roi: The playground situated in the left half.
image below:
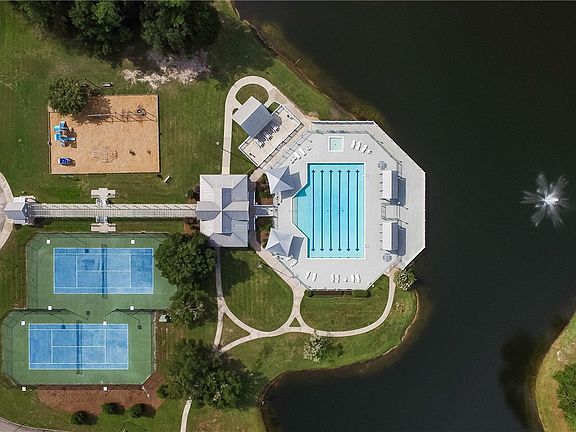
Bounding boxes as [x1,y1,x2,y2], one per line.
[49,94,159,174]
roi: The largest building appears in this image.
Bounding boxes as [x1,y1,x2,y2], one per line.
[195,175,250,248]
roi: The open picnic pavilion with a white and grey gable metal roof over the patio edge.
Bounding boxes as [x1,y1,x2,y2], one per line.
[233,96,273,137]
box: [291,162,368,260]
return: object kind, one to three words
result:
swimming pool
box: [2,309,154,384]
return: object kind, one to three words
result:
tennis court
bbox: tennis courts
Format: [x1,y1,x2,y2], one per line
[2,309,154,384]
[26,233,178,309]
